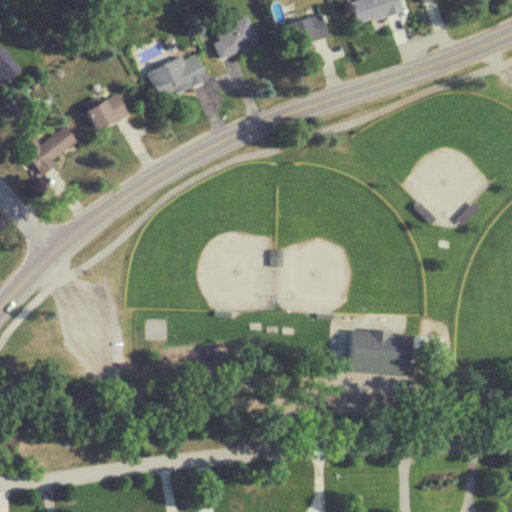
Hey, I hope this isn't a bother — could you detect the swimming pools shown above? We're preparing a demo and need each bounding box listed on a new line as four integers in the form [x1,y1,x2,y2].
[132,42,168,68]
[272,0,284,24]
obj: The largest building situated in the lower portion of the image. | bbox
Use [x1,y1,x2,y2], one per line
[351,327,405,374]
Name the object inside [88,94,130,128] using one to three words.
house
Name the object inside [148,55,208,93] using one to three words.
house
